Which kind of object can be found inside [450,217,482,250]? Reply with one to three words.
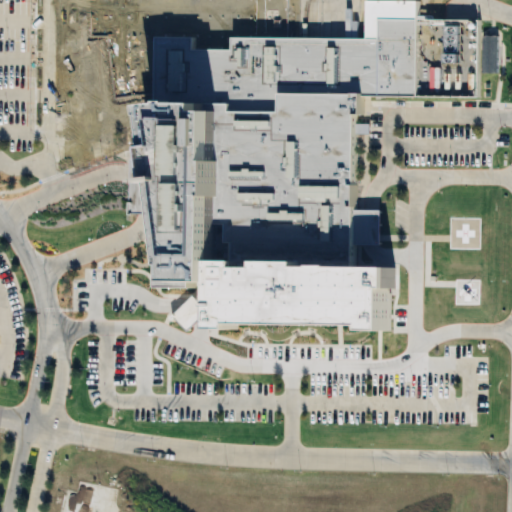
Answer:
helipad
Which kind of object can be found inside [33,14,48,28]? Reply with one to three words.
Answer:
vehicle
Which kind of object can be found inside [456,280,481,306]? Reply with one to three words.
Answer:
helipad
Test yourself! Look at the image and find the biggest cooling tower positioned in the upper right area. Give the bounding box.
[444,23,461,54]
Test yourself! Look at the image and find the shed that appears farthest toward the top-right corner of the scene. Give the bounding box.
[482,35,500,73]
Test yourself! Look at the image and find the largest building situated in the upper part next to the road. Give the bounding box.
[126,1,422,330]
